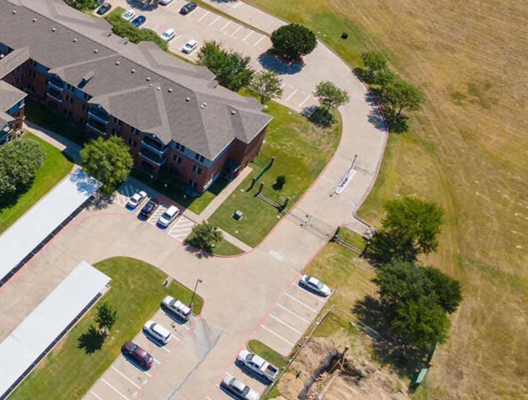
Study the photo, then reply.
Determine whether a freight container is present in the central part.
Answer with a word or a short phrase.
No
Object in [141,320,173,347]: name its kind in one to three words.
car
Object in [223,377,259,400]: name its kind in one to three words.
car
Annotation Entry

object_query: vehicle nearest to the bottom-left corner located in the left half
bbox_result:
[121,344,154,372]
